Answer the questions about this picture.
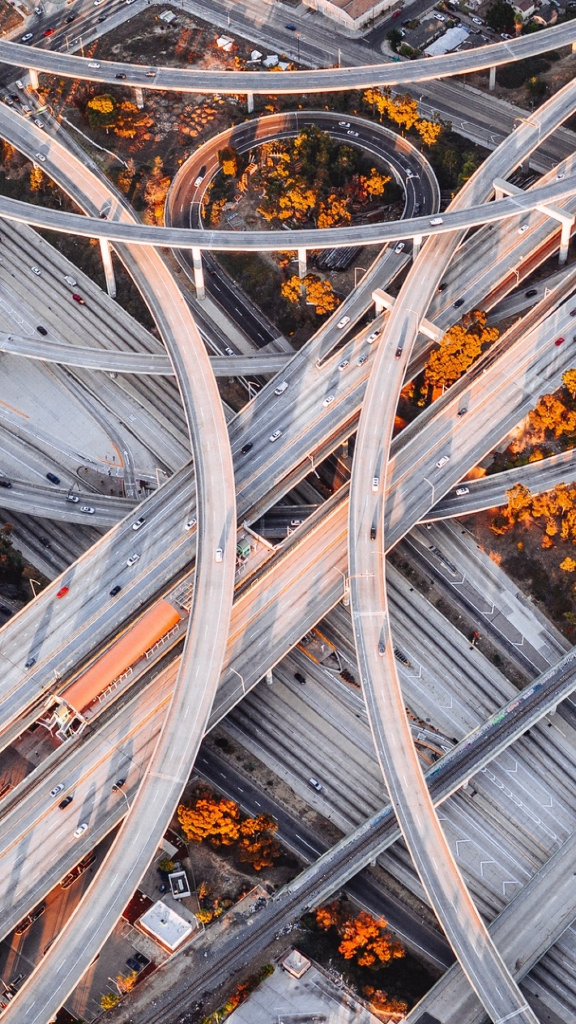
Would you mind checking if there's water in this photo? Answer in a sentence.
No, no water is visible.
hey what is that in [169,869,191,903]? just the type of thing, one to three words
shed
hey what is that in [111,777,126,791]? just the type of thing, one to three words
car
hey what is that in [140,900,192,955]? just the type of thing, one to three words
building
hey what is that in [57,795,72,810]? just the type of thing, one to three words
car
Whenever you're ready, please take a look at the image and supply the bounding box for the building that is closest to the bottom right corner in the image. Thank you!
[224,951,371,1024]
